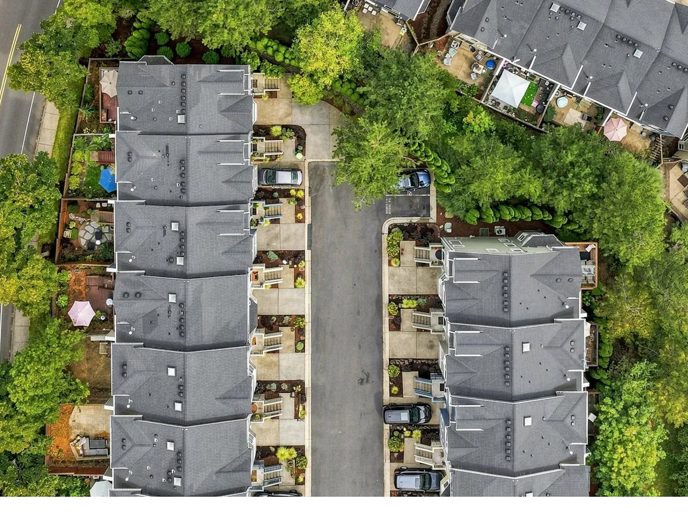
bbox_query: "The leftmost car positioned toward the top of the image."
[261,167,304,188]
